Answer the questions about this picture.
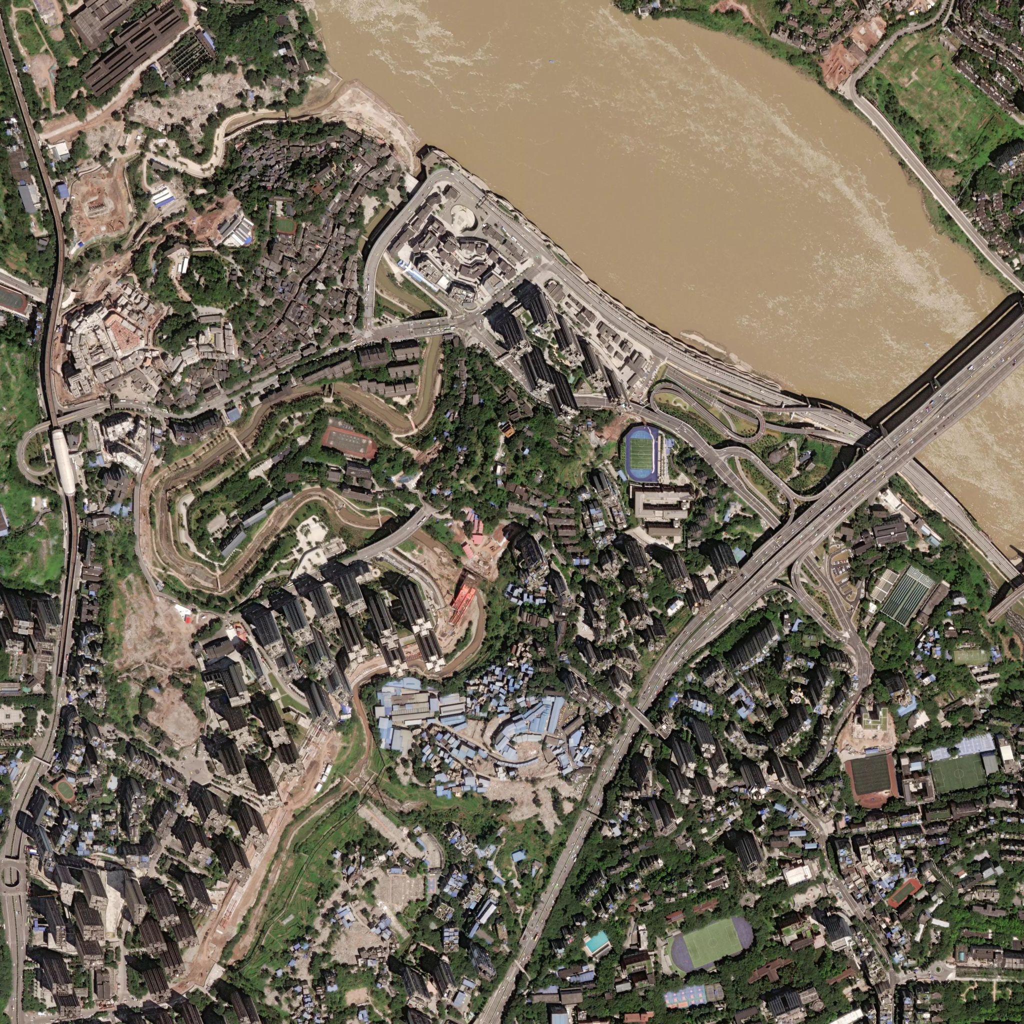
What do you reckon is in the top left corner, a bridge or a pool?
bridge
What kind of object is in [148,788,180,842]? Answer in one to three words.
building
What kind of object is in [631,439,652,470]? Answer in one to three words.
sports field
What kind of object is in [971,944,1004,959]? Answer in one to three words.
building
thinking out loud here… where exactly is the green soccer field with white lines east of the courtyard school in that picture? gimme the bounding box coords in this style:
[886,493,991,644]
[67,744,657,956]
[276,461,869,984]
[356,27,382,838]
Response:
[932,754,987,794]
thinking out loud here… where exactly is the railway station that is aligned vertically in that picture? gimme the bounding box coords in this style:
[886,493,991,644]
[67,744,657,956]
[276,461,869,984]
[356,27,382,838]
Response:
[42,428,75,498]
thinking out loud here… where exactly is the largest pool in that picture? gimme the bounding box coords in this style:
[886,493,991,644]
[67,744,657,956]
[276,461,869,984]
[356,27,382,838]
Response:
[582,932,611,958]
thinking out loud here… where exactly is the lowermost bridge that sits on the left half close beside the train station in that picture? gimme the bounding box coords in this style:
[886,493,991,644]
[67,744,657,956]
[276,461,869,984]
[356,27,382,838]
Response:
[57,496,78,677]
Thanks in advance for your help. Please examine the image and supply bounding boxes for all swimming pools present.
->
[109,776,118,789]
[582,932,611,958]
